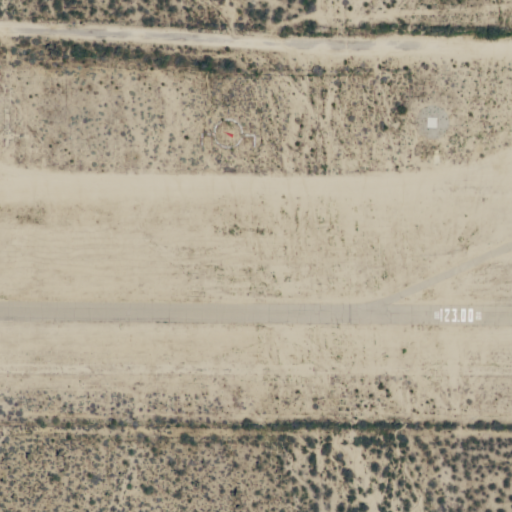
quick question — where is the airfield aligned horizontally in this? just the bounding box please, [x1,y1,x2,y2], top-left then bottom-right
[0,244,512,326]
